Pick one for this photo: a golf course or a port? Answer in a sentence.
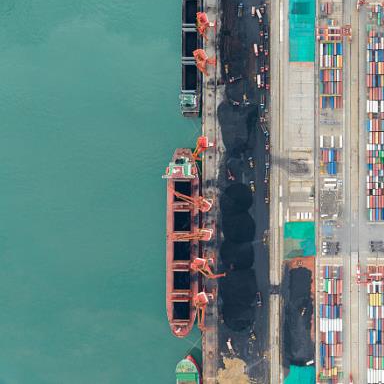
It's a port.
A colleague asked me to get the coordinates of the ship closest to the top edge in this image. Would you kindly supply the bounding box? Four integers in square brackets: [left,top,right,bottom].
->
[180,0,202,118]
